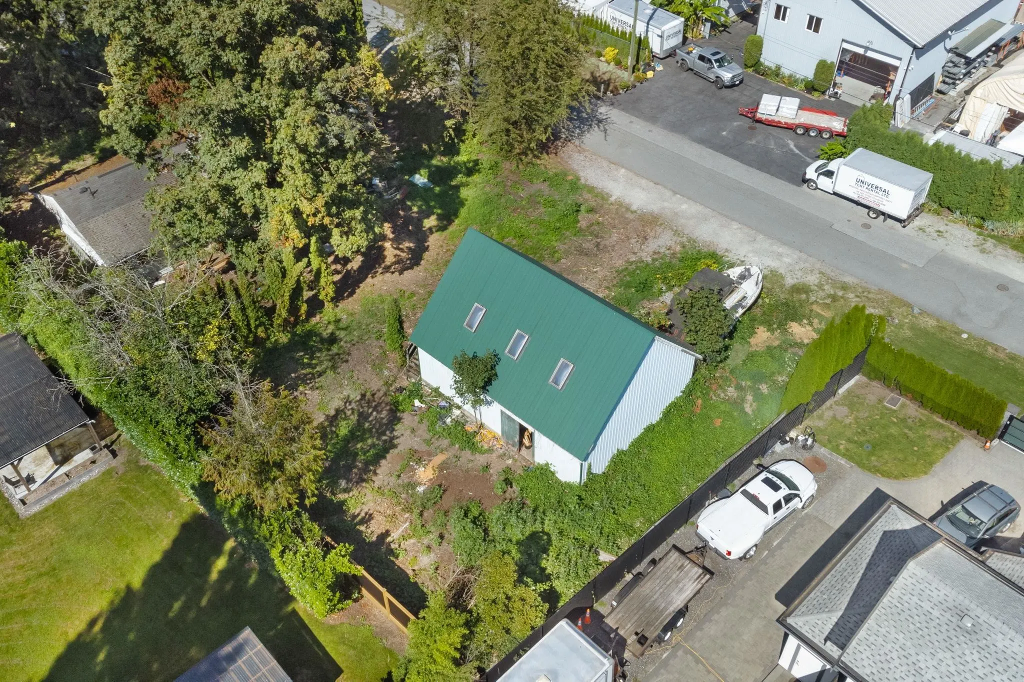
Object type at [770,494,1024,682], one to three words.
house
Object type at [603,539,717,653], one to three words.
trailer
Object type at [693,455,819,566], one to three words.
truck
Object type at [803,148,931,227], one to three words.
truck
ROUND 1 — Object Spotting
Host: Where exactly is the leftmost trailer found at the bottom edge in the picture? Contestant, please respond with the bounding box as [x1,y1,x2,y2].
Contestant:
[499,622,612,682]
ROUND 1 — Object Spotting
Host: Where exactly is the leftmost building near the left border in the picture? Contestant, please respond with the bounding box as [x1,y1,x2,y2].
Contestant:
[0,326,105,520]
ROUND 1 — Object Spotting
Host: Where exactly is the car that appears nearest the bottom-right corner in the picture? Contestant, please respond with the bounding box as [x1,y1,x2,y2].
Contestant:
[934,482,1023,550]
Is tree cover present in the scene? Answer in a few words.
Yes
